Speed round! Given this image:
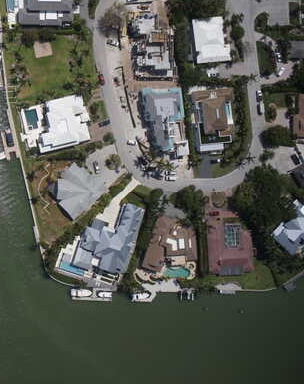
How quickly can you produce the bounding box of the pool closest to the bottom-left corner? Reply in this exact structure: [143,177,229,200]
[58,263,84,276]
